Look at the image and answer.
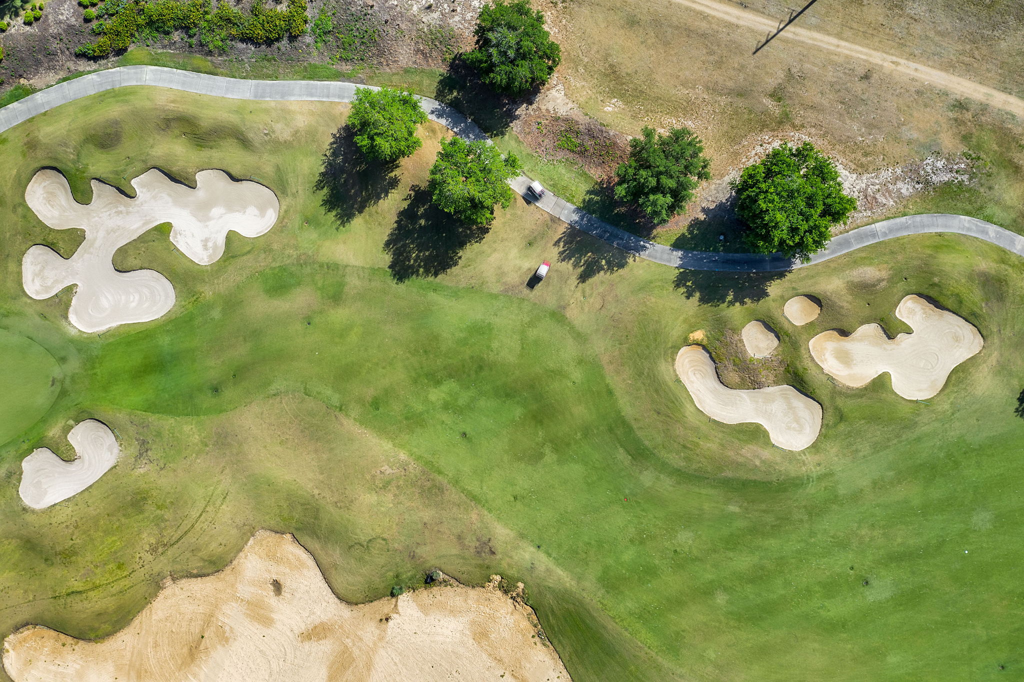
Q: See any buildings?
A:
No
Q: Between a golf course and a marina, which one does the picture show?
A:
golf course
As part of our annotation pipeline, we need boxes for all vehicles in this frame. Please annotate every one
[529,179,546,198]
[536,258,551,278]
